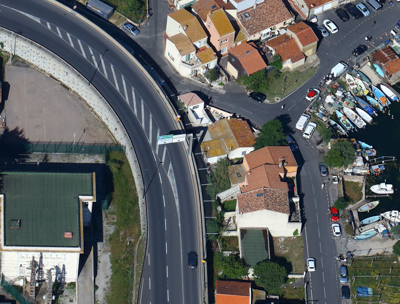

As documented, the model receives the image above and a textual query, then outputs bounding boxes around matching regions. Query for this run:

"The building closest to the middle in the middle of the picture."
[201,139,227,166]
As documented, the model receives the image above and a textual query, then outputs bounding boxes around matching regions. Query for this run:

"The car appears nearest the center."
[248,90,266,103]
